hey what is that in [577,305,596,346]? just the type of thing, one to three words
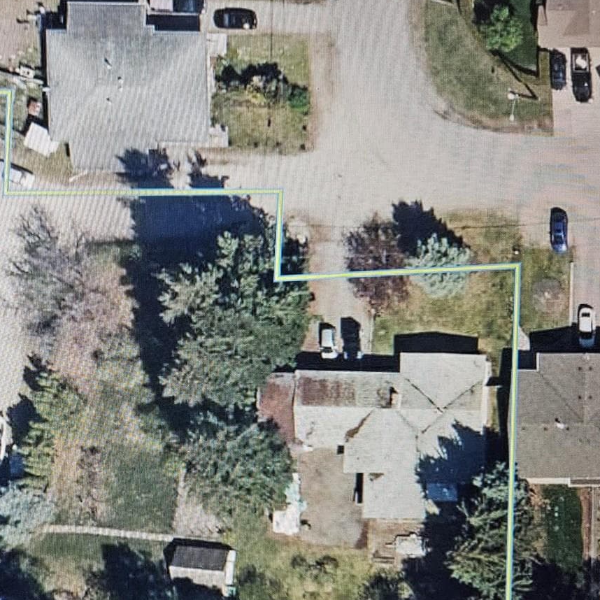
car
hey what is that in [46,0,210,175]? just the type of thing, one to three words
house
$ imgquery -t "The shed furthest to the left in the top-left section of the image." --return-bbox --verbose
[23,121,50,156]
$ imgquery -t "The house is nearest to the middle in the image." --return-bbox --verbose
[263,353,487,519]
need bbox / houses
[263,353,487,519]
[46,0,210,175]
[537,0,600,48]
[516,352,600,487]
